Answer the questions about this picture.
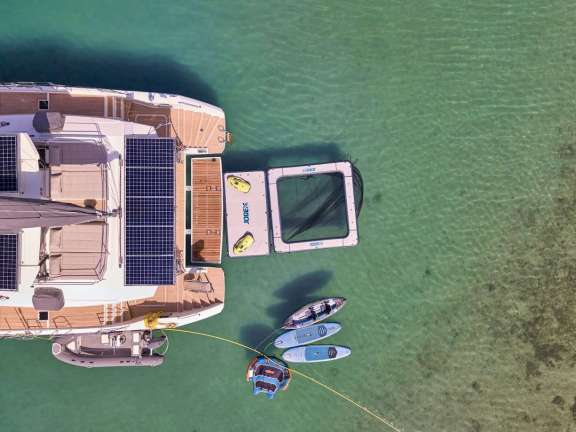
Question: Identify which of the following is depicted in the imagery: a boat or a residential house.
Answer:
boat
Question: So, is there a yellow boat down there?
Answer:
No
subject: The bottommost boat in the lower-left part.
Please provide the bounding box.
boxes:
[50,328,169,368]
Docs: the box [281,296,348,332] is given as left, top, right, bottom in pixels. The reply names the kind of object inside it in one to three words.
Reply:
boat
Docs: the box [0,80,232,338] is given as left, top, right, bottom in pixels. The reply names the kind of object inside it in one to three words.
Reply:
boat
